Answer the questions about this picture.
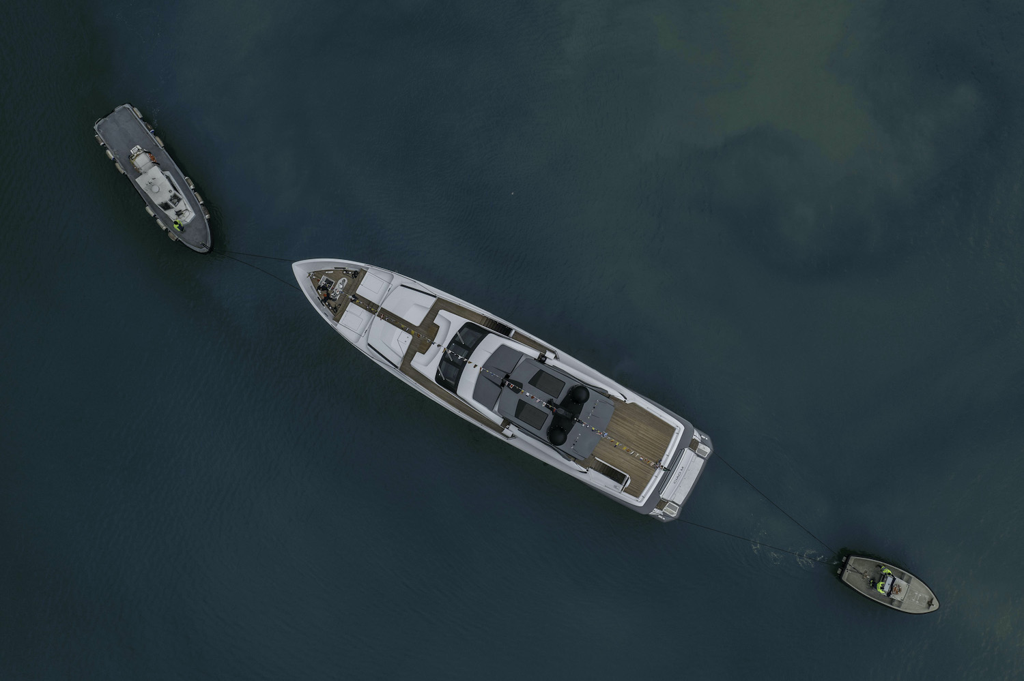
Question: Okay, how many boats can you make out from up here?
three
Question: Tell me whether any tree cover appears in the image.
No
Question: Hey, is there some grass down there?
No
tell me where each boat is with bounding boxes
[292,257,713,522]
[836,553,940,615]
[93,102,215,253]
